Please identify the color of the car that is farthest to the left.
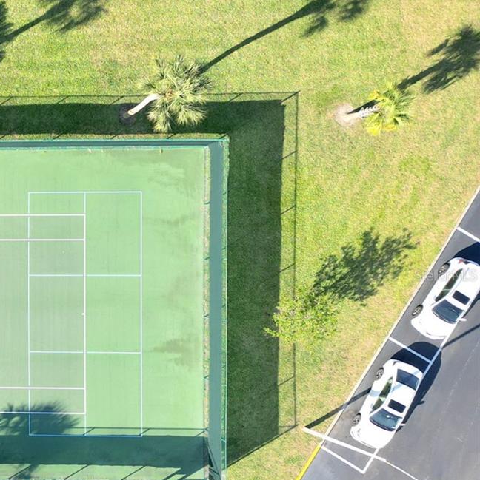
white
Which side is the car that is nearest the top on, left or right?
right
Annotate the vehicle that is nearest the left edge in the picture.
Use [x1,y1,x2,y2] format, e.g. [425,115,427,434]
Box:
[355,359,423,448]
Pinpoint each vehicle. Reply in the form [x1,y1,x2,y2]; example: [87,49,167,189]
[413,253,480,340]
[355,359,423,448]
